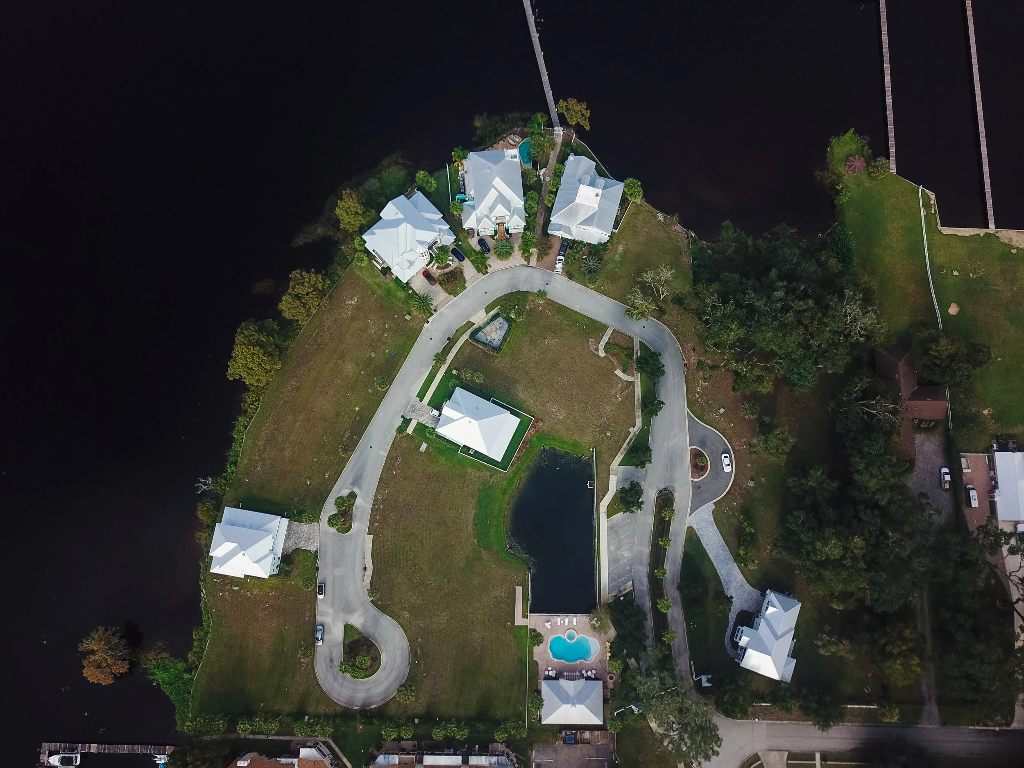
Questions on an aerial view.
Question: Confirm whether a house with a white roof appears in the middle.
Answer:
Yes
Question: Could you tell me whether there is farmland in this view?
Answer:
No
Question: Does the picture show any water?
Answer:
Yes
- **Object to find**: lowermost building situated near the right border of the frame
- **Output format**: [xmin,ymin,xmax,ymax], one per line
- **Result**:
[989,440,1024,521]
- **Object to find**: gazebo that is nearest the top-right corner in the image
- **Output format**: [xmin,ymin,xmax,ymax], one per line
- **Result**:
[840,156,864,178]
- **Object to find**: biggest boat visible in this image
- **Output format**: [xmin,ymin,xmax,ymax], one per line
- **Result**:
[47,754,82,766]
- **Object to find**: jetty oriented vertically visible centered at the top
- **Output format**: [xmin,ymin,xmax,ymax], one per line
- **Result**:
[525,0,560,130]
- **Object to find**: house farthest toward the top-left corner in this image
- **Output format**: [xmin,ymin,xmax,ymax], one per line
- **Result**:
[362,188,456,283]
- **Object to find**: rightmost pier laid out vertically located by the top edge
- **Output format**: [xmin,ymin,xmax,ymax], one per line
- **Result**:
[961,0,996,230]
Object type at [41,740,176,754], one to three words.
pier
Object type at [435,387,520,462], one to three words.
house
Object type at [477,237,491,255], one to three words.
car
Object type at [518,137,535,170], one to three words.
swimming pool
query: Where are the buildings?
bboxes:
[363,743,516,768]
[227,738,337,768]
[541,678,603,724]
[871,346,947,458]
[435,387,520,462]
[456,148,526,242]
[362,188,456,283]
[548,152,624,244]
[989,440,1024,521]
[209,506,292,578]
[699,670,714,686]
[734,589,801,683]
